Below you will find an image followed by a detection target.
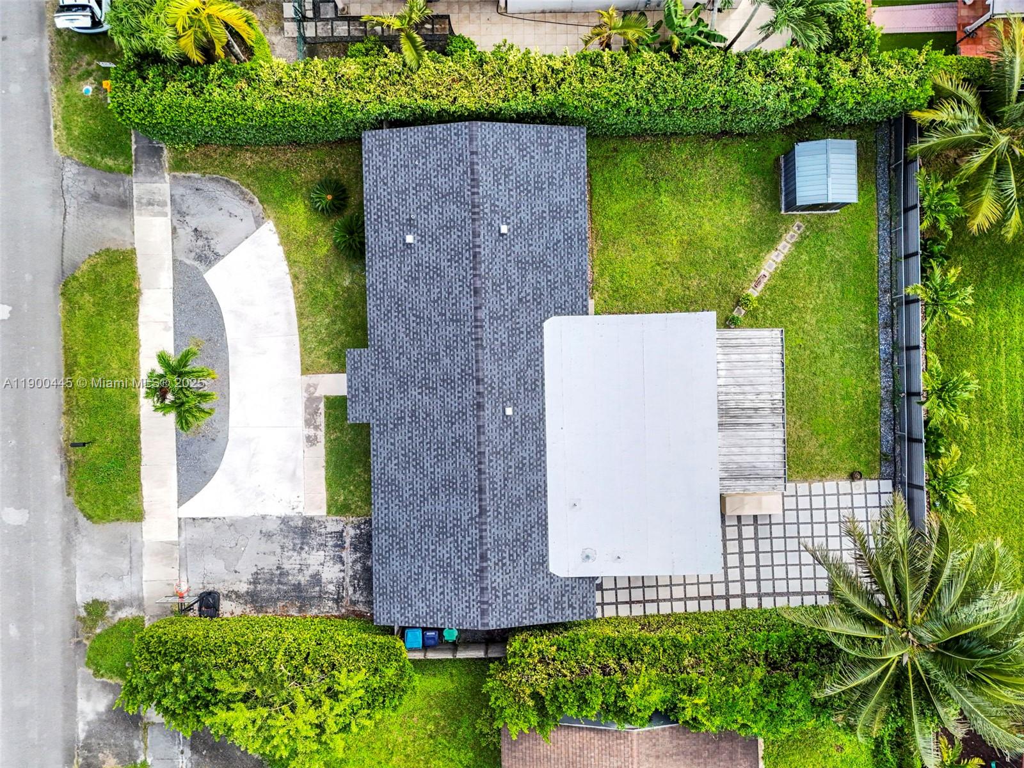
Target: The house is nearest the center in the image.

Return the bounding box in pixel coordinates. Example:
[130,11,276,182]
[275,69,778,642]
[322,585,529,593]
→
[347,121,722,631]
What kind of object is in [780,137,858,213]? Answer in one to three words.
shed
